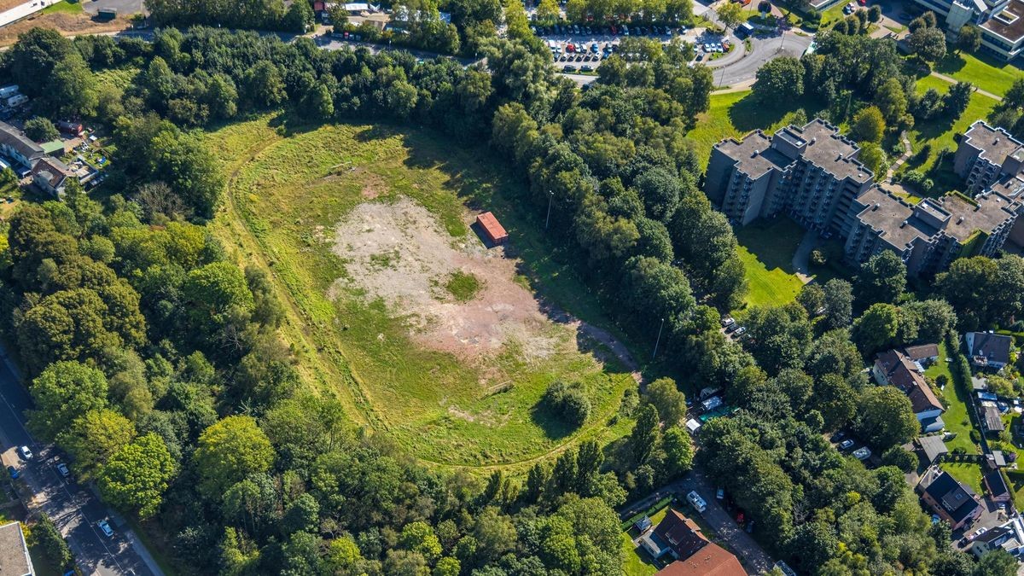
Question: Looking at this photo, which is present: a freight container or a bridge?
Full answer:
It is a freight container that can be seen here.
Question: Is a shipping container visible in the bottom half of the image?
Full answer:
No, I can find no shipping container in the bottom half of the image.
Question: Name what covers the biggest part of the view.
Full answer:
The scene is dominated by trees.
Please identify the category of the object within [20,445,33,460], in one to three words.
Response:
vehicle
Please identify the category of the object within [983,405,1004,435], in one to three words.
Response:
shed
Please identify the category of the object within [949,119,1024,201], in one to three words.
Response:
building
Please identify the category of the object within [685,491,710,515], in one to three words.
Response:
vehicle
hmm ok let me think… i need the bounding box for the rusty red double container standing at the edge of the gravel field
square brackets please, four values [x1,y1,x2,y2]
[477,212,508,245]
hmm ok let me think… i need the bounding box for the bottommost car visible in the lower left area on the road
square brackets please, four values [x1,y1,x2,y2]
[98,520,112,537]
